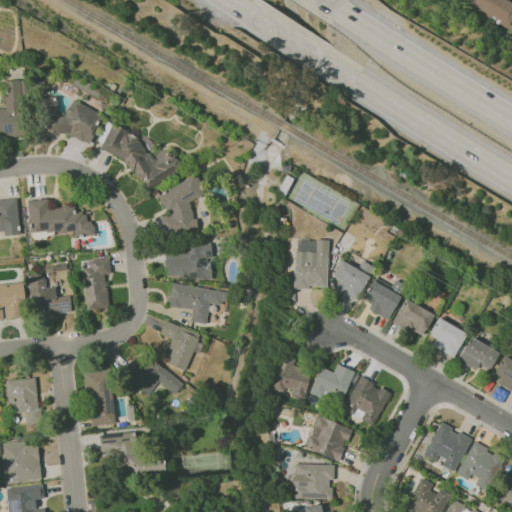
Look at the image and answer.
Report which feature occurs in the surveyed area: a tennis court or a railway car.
tennis court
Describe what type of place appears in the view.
residential area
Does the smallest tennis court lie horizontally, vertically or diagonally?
horizontally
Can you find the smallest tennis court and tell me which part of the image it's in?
bottom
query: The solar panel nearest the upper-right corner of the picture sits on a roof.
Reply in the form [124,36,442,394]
[298,240,316,252]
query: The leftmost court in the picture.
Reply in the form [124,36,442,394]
[182,452,232,472]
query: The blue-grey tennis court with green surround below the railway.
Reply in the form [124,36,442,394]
[290,173,359,230]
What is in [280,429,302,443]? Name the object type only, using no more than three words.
swimming pool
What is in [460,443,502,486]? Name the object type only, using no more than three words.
house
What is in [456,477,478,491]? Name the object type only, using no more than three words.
swimming pool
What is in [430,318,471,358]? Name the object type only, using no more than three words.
house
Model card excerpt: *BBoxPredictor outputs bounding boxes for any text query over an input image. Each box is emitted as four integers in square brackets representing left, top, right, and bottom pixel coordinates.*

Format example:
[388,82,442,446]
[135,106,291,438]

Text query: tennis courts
[290,173,359,230]
[182,452,232,472]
